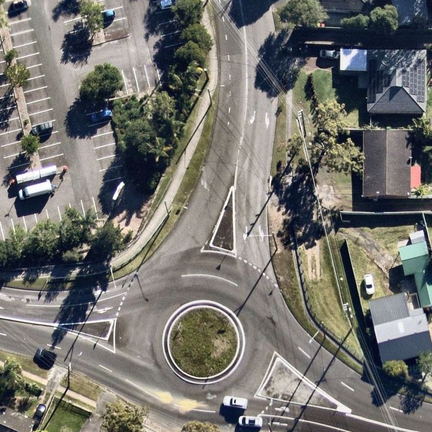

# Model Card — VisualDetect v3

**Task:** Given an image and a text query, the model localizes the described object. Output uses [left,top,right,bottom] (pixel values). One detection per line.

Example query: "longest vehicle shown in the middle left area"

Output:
[19,178,54,201]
